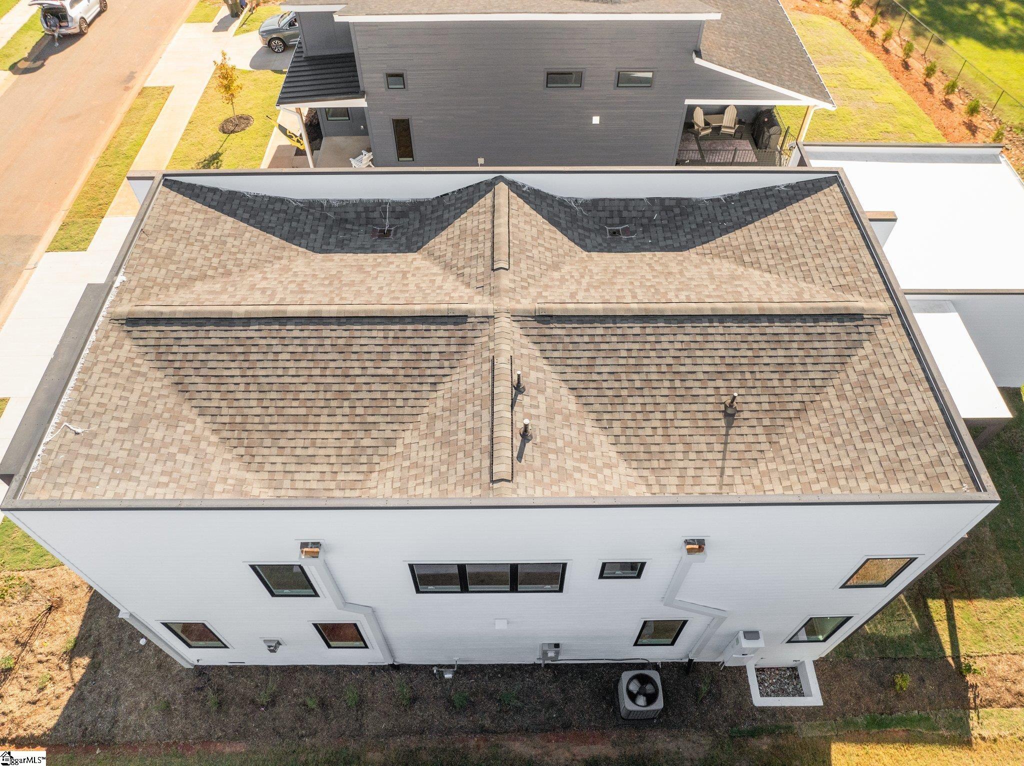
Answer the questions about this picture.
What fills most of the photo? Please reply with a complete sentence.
The scene is dominated by buildings.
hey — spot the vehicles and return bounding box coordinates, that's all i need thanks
[256,10,300,52]
[8,0,108,38]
